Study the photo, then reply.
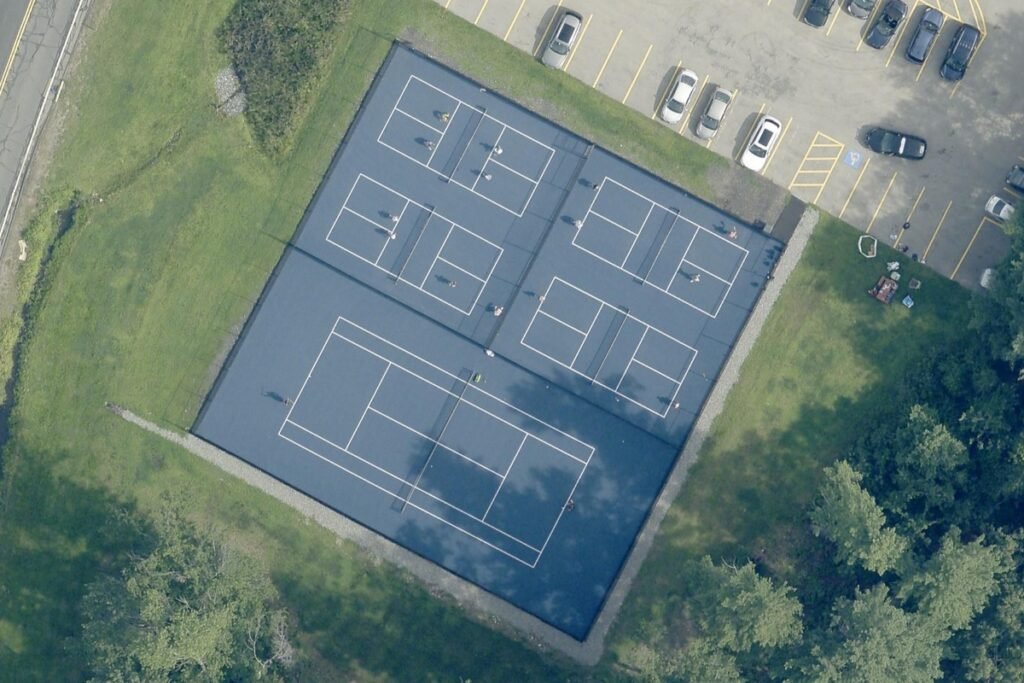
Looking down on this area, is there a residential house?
No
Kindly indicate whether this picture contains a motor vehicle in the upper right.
Yes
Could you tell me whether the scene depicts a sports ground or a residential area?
sports ground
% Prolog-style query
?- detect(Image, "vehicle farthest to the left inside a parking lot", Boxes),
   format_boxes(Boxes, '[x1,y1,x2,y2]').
[542,12,584,68]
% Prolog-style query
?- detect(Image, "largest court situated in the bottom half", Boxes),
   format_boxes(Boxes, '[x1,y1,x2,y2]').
[192,246,680,641]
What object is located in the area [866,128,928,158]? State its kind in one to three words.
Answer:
truck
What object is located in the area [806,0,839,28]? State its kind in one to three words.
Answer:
car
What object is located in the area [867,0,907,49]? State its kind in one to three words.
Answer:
car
